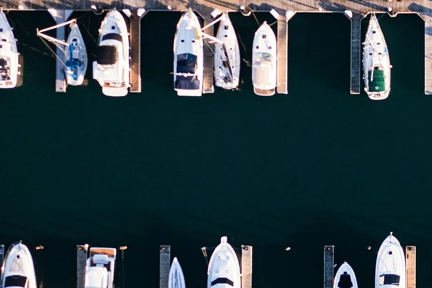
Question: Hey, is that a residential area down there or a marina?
marina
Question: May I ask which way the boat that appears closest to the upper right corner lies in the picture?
from top to bottom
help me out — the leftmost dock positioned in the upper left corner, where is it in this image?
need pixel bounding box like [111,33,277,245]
[54,10,75,92]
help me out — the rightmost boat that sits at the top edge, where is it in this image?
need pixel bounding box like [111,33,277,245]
[360,14,392,100]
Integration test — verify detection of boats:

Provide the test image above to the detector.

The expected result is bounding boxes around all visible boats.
[170,258,186,288]
[208,236,241,288]
[199,10,241,90]
[375,233,406,288]
[36,18,88,86]
[252,21,277,96]
[173,9,205,96]
[360,14,392,100]
[0,9,19,88]
[86,248,116,288]
[333,260,358,288]
[0,241,40,288]
[94,9,133,97]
